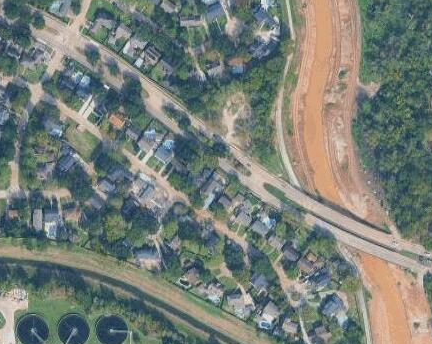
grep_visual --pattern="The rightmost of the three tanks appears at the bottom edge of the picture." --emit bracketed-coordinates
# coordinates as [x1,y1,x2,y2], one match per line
[96,314,129,344]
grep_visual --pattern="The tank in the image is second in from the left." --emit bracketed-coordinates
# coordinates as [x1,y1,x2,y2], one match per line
[58,314,90,344]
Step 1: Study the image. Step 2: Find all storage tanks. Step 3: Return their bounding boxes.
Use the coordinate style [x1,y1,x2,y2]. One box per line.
[96,314,129,344]
[58,314,90,344]
[17,314,49,344]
